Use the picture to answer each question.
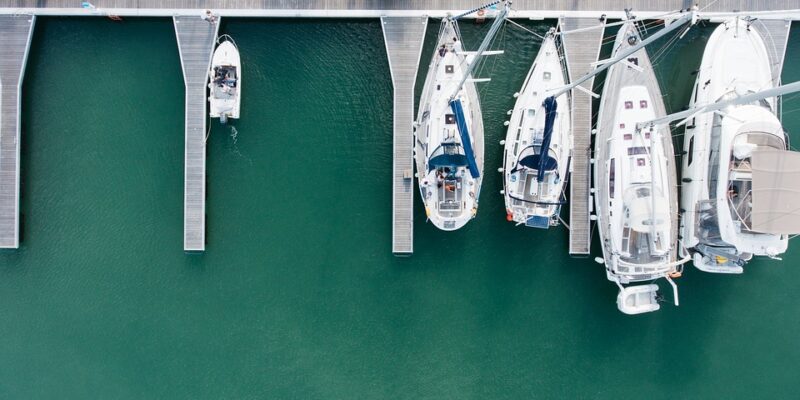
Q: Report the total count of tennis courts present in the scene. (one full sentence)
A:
There are no tennis courts in the image.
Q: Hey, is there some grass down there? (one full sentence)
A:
No, the scene doesn't show any grass.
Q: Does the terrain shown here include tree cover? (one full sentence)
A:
No, the scene doesn't show any tree cover.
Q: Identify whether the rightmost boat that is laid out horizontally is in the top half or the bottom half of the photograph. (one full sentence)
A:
You can find the rightmost boat that is laid out horizontally in the bottom half.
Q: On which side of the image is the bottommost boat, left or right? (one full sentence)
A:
The bottommost boat appears in the right half of the scene.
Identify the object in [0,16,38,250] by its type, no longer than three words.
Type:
pier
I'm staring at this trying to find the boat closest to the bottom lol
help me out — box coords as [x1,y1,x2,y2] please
[617,284,664,314]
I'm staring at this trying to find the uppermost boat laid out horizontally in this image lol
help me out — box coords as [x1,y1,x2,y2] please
[690,248,748,273]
